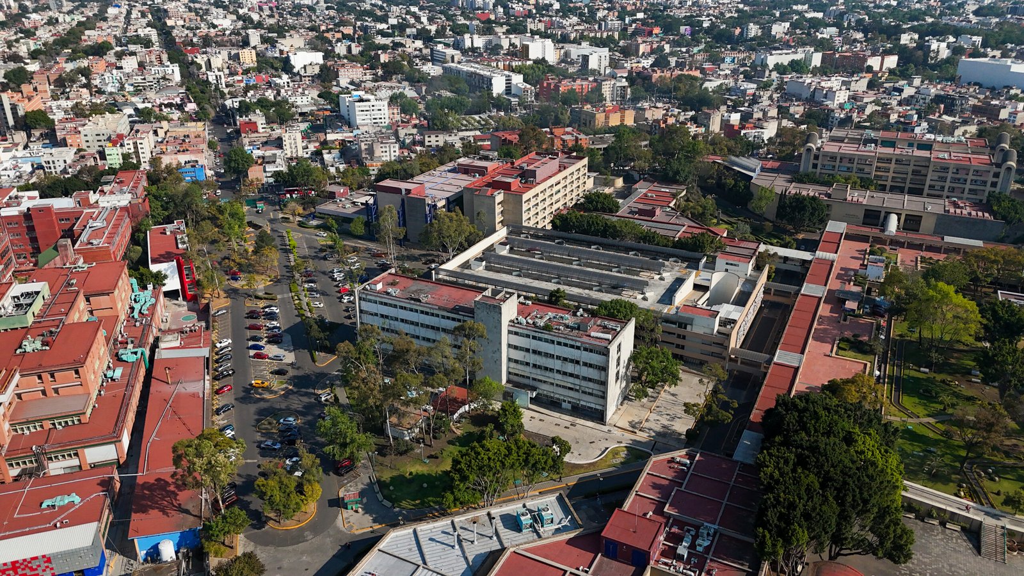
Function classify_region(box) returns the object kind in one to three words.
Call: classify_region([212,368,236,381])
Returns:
vehicle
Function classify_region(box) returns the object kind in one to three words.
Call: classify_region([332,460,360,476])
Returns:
vehicle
